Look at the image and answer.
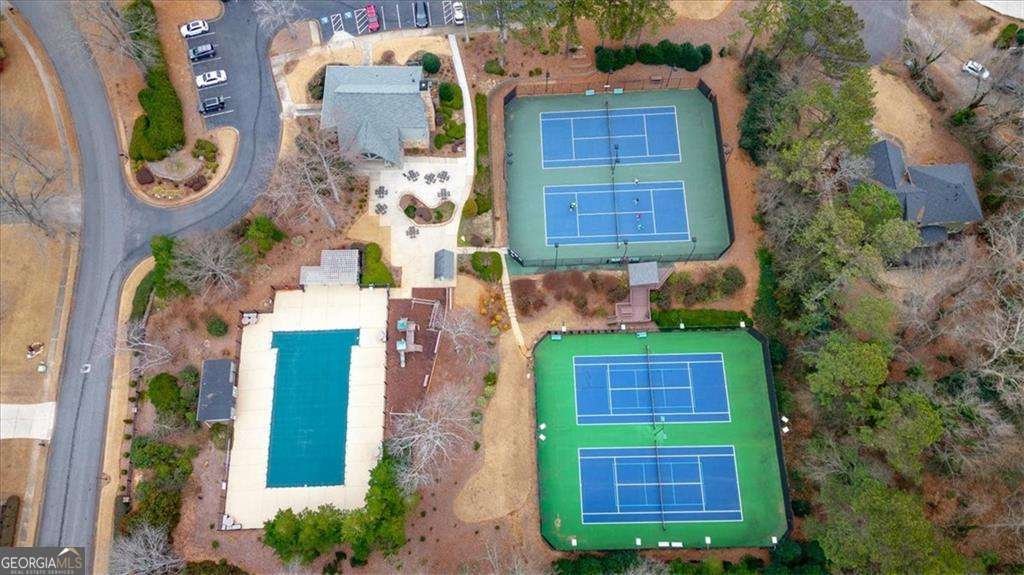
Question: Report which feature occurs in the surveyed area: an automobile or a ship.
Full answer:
There is an automobile in the scene.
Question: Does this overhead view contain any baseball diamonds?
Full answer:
No, the scene contains no baseball diamond.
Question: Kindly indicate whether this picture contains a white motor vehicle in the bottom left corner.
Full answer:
No, looking in the bottom left corner, there is no white motor vehicle.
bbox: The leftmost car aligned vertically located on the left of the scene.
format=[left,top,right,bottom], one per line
[366,5,379,33]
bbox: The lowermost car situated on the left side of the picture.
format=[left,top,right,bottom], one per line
[199,96,227,114]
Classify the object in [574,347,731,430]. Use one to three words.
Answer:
tennis court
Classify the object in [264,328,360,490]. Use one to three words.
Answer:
swimming pool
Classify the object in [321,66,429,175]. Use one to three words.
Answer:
building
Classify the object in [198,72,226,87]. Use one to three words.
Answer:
car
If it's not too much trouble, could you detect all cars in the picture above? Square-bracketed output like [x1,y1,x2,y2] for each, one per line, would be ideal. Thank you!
[199,96,227,114]
[182,22,208,37]
[198,72,226,87]
[366,5,379,33]
[415,1,428,27]
[452,2,465,26]
[960,59,991,80]
[190,44,217,61]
